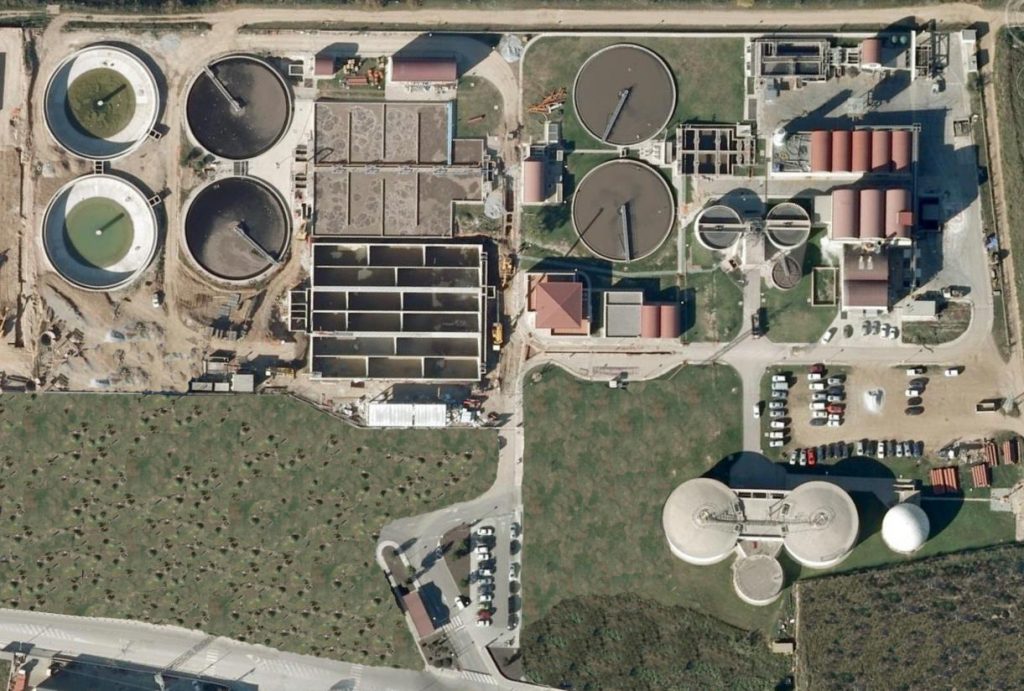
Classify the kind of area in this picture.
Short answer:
industrial area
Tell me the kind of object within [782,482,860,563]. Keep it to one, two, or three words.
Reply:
storage tank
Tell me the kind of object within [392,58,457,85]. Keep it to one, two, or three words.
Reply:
shed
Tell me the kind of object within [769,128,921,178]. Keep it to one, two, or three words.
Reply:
building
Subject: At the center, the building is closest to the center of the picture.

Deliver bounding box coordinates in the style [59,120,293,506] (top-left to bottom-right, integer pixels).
[526,274,591,340]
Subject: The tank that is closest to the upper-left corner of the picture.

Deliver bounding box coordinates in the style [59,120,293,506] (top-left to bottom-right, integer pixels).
[43,47,159,161]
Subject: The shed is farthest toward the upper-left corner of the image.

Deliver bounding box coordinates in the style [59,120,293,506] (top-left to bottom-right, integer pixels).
[315,59,334,79]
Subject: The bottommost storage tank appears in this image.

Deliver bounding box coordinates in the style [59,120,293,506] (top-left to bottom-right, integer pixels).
[733,555,782,605]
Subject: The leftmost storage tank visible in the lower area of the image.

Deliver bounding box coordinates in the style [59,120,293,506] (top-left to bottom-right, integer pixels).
[661,480,740,563]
